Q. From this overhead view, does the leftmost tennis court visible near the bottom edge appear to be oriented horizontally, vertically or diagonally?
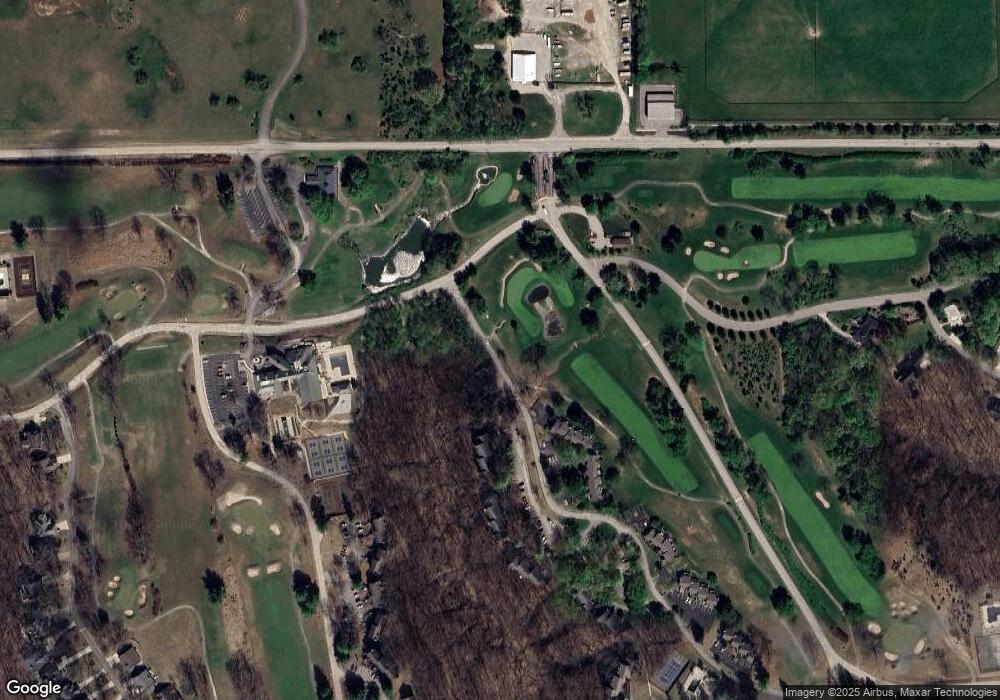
diagonally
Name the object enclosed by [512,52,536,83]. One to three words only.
shed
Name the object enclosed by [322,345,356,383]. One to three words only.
swimming pool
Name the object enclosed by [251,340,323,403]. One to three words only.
building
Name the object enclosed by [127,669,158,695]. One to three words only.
house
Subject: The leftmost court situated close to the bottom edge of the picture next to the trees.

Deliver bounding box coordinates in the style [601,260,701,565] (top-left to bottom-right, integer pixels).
[648,652,689,692]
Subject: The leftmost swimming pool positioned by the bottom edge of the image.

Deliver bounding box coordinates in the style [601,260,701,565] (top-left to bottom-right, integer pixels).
[685,666,706,692]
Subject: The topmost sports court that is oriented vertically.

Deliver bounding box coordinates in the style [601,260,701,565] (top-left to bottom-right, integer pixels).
[13,255,35,297]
